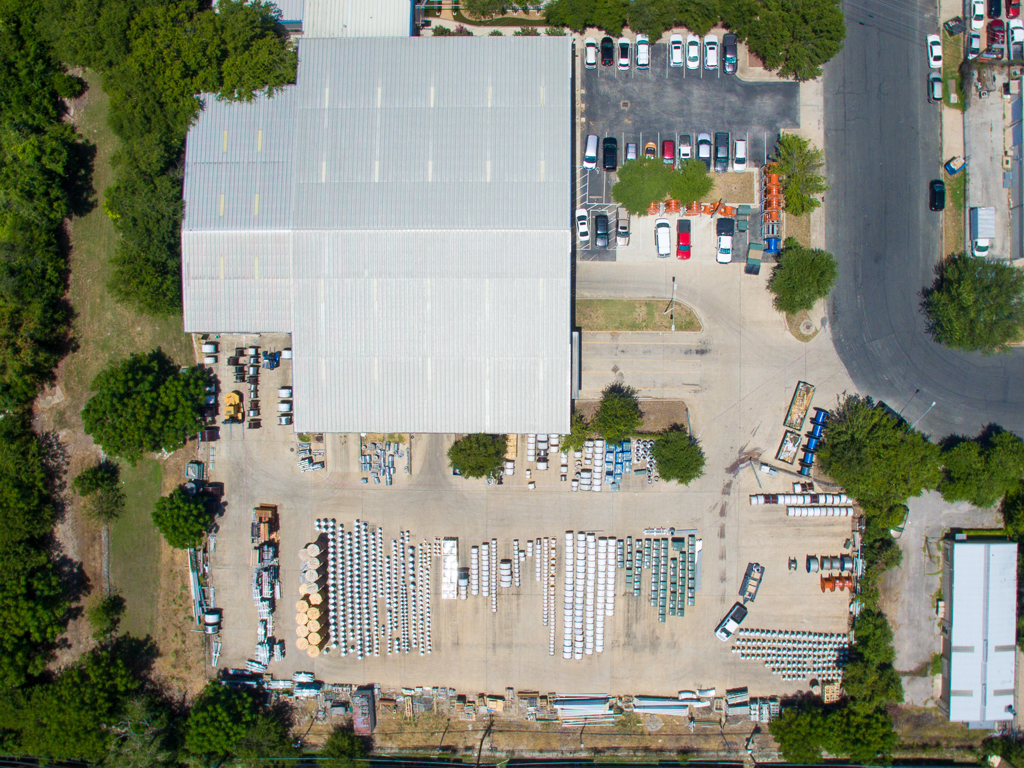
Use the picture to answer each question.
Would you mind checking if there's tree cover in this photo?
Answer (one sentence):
Yes, tree cover can be seen from above here.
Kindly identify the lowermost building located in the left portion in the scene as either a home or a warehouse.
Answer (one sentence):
The lowermost building located in the left portion can be classified as a warehouse.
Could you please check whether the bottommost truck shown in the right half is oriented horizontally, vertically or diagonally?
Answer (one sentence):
I'd say the bottommost truck shown in the right half is aligned diagonally in the picture.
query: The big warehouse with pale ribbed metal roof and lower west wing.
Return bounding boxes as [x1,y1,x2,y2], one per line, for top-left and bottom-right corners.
[182,36,580,434]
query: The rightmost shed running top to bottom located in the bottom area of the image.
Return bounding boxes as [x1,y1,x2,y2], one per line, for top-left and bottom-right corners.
[938,540,1018,721]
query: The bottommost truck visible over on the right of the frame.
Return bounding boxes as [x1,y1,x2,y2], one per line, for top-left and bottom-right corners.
[714,599,750,640]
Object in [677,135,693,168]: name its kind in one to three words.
vehicle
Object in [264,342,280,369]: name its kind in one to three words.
work vehicle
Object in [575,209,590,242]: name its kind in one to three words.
car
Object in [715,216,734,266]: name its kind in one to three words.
vehicle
